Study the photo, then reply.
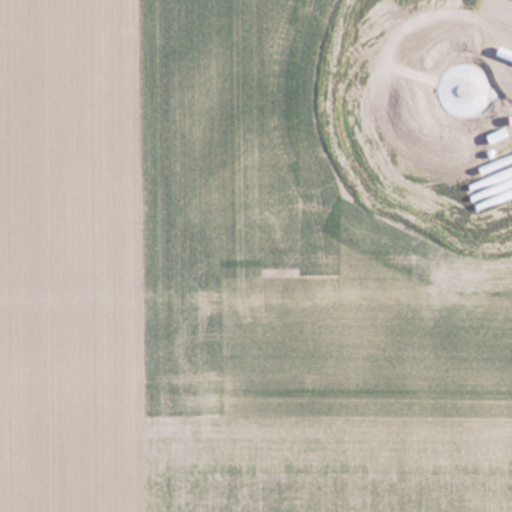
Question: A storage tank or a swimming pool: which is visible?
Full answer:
I can see a storage tank in this picture.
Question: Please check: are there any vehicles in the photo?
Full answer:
No, the scene contains no vehicle.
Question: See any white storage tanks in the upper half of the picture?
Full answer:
Yes, you'll find a white storage tank in the upper half of the picture.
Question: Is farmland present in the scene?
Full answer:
Yes, there's farmland in this view.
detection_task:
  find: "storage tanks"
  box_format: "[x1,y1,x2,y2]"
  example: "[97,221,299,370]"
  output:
[438,64,498,118]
